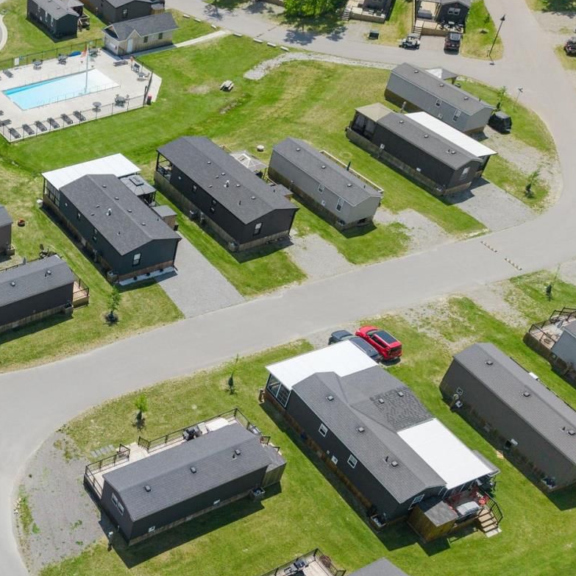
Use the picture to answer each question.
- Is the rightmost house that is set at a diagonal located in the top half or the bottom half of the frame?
bottom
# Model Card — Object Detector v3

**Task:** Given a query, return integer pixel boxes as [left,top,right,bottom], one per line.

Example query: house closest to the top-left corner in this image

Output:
[29,0,82,40]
